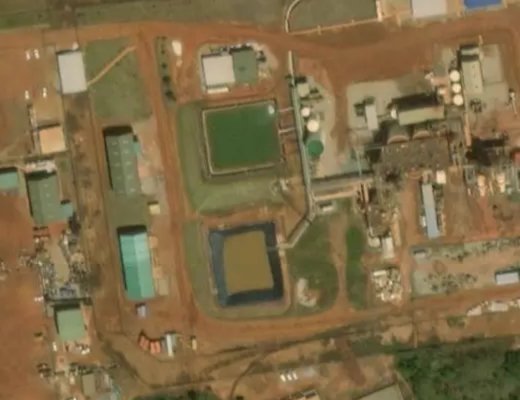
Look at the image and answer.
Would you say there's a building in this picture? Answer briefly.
Yes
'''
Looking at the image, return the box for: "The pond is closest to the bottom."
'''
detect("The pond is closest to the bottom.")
[209,221,285,307]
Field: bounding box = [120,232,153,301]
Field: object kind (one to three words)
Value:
building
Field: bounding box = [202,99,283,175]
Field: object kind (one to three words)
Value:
pond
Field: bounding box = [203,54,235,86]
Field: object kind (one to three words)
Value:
building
